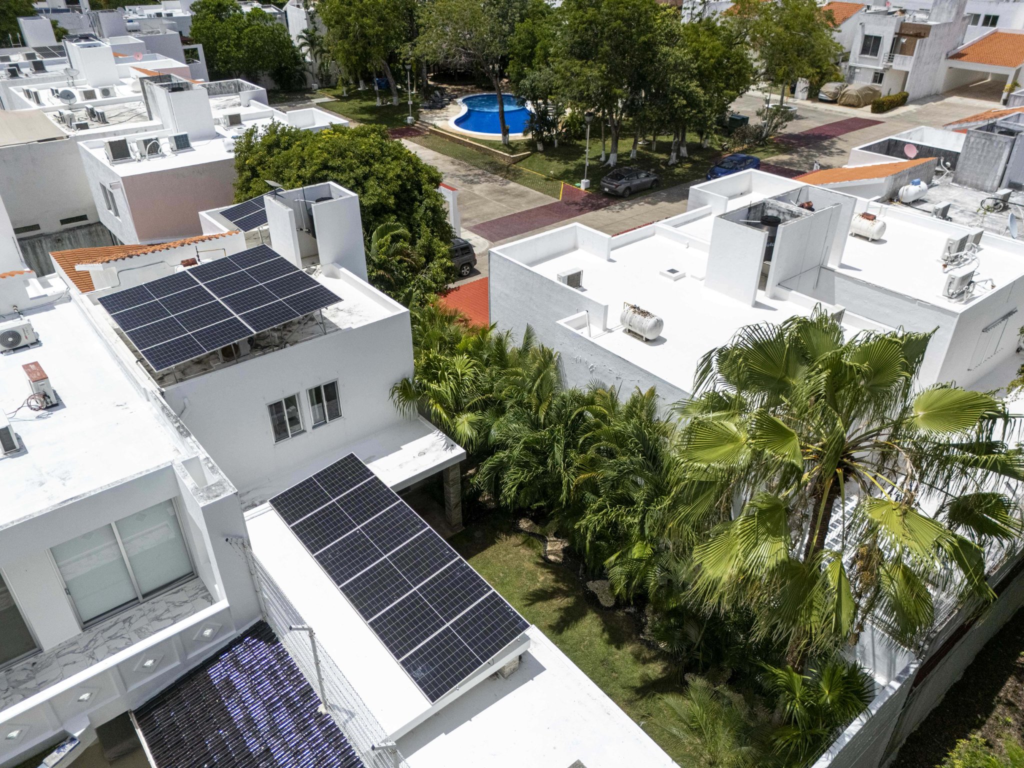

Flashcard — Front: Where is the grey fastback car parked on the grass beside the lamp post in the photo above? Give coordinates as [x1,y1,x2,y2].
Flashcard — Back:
[598,165,665,198]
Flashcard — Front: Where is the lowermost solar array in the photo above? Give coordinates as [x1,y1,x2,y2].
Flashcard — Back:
[267,452,530,702]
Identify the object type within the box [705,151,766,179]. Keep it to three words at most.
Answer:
car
